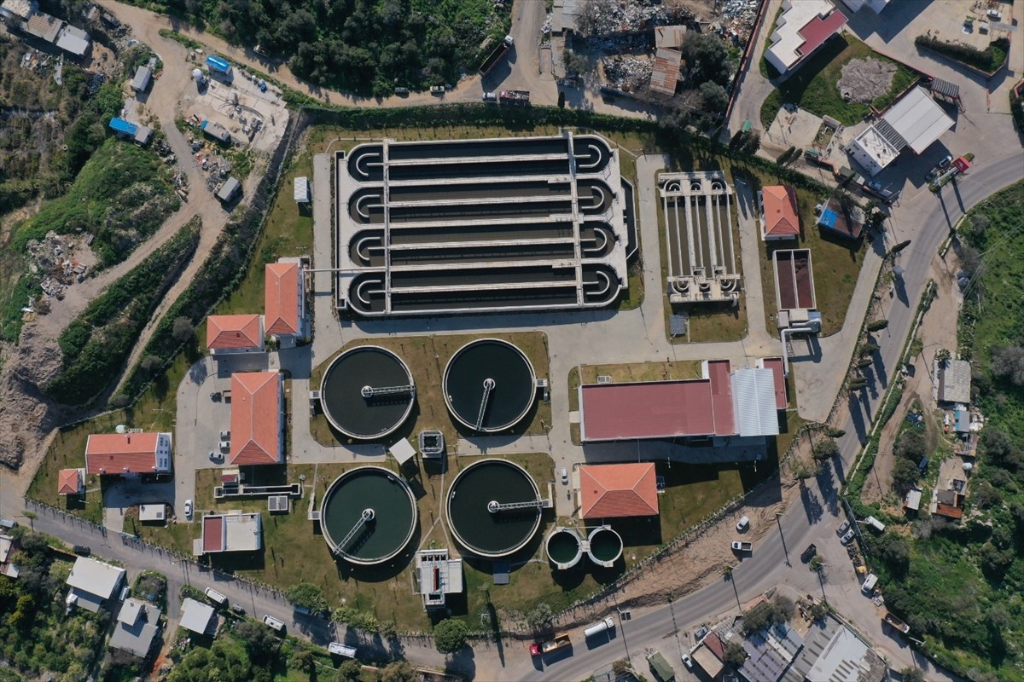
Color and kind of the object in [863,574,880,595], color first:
white vehicle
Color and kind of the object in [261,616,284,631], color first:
white vehicle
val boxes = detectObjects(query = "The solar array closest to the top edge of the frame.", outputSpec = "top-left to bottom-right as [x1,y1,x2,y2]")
[670,315,685,334]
